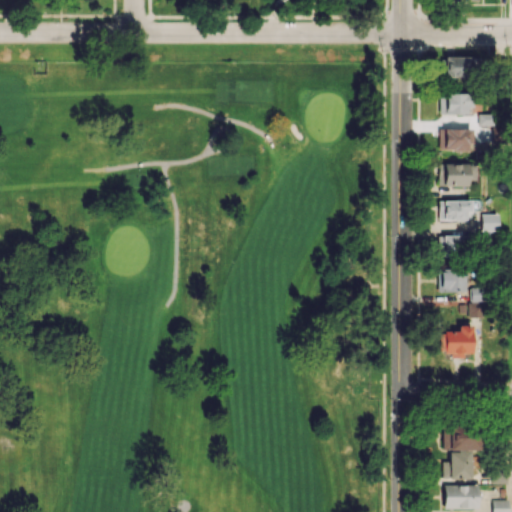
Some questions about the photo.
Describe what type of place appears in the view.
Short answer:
golf course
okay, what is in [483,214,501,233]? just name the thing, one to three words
building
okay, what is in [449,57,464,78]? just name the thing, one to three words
house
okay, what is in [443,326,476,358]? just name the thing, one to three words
house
